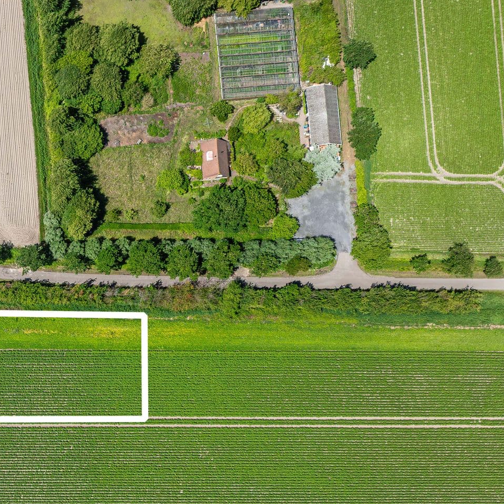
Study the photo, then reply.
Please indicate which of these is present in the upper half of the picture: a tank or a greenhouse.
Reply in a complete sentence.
It is a greenhouse that can be seen in the upper half of the picture.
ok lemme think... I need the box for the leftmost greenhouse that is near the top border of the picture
[212,6,302,102]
